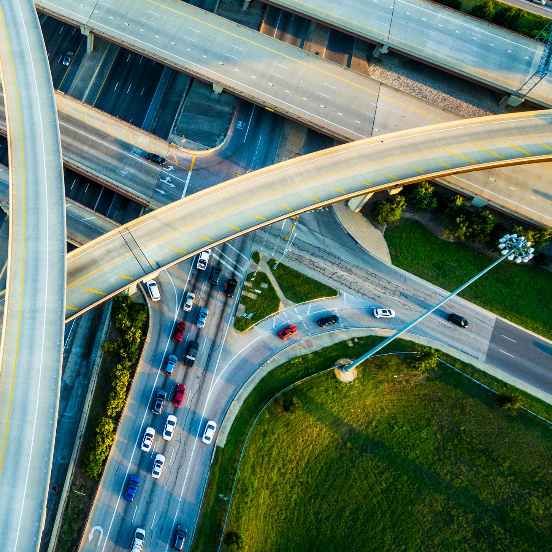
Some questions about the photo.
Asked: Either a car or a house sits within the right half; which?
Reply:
car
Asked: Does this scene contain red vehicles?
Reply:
Yes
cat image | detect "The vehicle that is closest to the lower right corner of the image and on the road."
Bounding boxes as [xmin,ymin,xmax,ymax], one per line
[445,312,471,331]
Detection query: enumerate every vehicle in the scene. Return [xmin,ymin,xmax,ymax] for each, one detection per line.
[225,278,238,299]
[173,524,188,552]
[277,325,299,342]
[172,384,185,409]
[173,322,186,344]
[529,0,545,6]
[373,309,395,319]
[202,420,216,445]
[130,527,146,552]
[152,390,167,415]
[64,52,73,67]
[210,265,223,287]
[185,341,199,368]
[183,292,195,313]
[142,427,156,453]
[196,308,209,329]
[197,252,212,271]
[151,453,165,480]
[164,354,177,376]
[445,312,471,331]
[317,317,341,329]
[124,475,139,503]
[147,282,159,301]
[163,416,177,441]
